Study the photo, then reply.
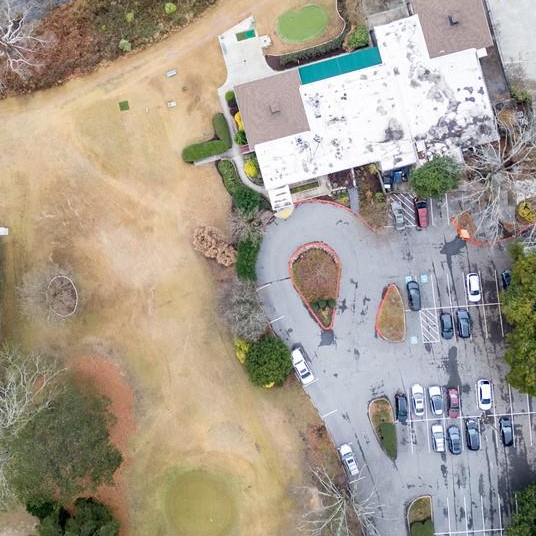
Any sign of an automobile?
Yes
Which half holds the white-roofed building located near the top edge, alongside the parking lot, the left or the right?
right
